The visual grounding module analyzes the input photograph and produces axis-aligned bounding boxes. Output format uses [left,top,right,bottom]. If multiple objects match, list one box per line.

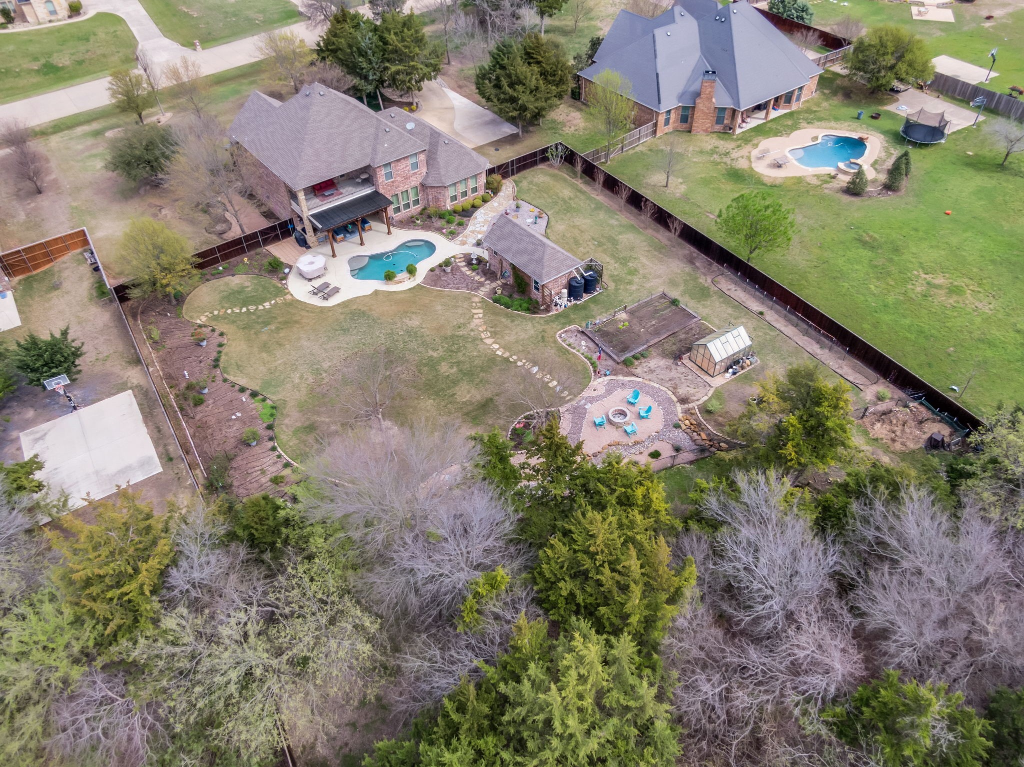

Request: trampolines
[900,106,952,150]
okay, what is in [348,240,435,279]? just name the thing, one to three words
swimming pool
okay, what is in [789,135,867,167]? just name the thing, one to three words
swimming pool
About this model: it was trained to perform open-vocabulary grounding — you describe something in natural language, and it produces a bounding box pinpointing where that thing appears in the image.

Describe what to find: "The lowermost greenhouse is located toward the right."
[689,321,759,377]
